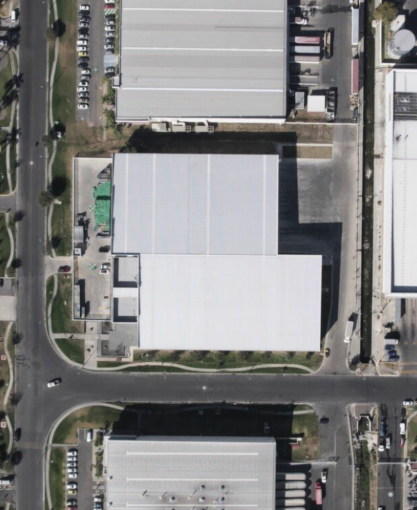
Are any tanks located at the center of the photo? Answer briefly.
No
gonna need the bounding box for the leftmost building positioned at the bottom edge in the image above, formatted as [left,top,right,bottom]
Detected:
[106,433,276,510]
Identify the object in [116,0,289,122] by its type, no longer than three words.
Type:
warehouse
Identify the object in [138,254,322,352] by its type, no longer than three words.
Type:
building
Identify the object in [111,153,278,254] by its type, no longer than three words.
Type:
building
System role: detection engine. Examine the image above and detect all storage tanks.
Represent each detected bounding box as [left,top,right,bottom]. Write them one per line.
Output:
[385,27,417,60]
